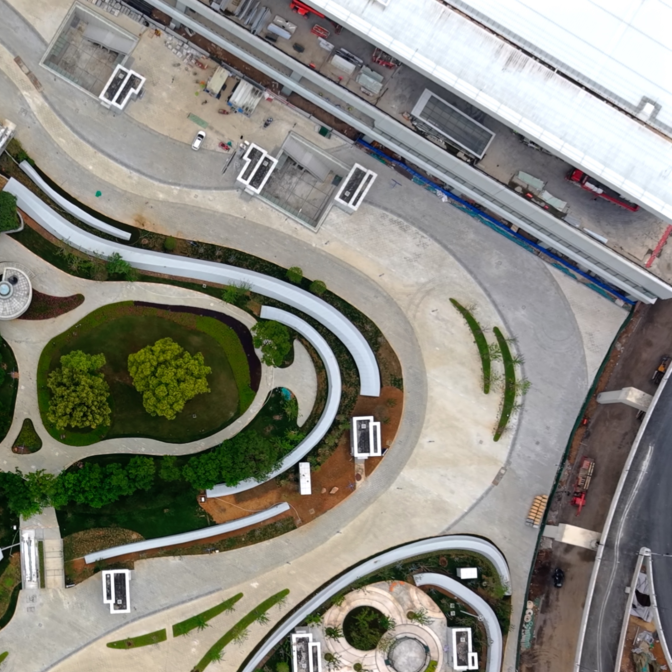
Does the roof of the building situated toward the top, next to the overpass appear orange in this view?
No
